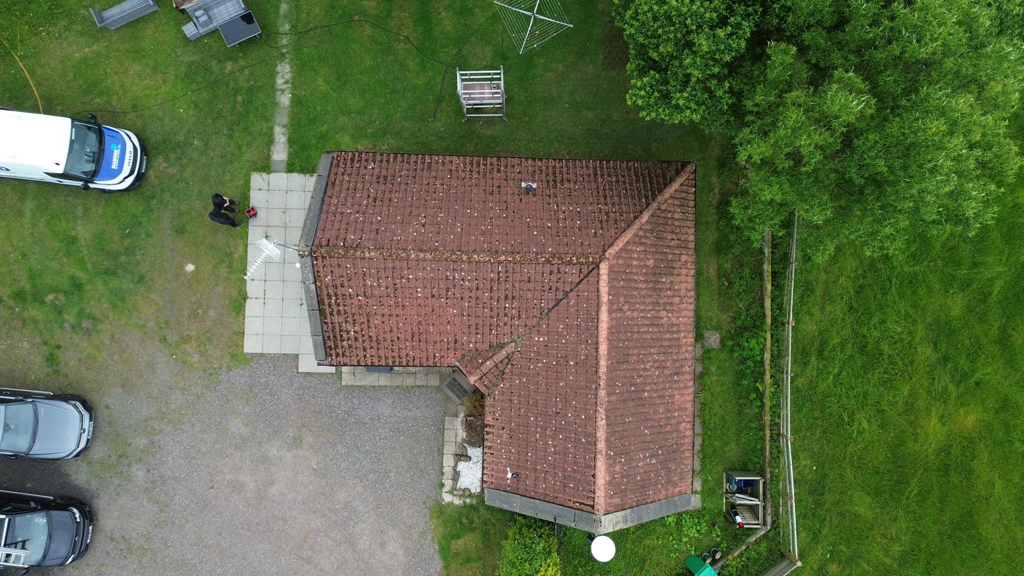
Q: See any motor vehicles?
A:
Yes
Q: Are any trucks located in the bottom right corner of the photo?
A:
No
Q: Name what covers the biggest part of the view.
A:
grass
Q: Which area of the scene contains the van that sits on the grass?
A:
top left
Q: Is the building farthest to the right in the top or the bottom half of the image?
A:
bottom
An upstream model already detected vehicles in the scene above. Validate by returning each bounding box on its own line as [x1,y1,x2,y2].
[0,488,95,576]
[0,106,147,194]
[0,385,95,467]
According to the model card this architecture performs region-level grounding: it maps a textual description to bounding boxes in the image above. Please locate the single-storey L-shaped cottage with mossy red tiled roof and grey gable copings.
[298,152,697,533]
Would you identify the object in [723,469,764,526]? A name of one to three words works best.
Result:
building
